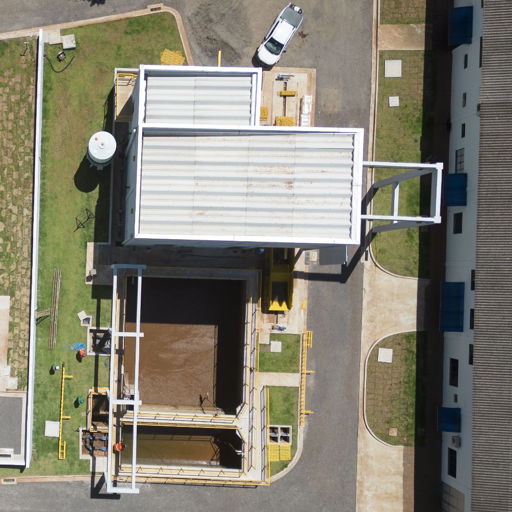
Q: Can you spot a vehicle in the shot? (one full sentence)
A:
Yes, there's a vehicle down there.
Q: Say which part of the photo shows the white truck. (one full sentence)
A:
Look in the top portion of the view to spot the white truck.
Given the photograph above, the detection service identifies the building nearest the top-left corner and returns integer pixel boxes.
[114,64,364,254]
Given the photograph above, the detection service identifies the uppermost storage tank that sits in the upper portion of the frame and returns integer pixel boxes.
[85,134,116,175]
